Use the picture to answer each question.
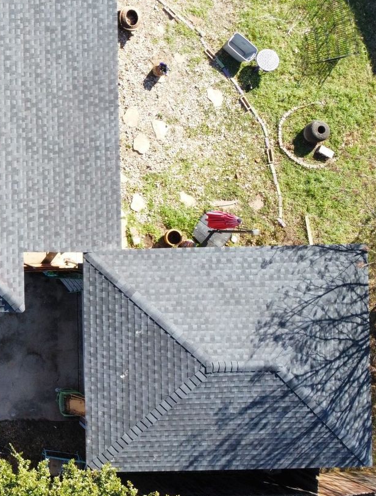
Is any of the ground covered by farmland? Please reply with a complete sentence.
No, the scene doesn't show any farmland.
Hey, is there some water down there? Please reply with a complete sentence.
No, the picture contains no water.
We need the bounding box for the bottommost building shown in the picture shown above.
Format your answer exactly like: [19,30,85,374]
[74,247,373,471]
